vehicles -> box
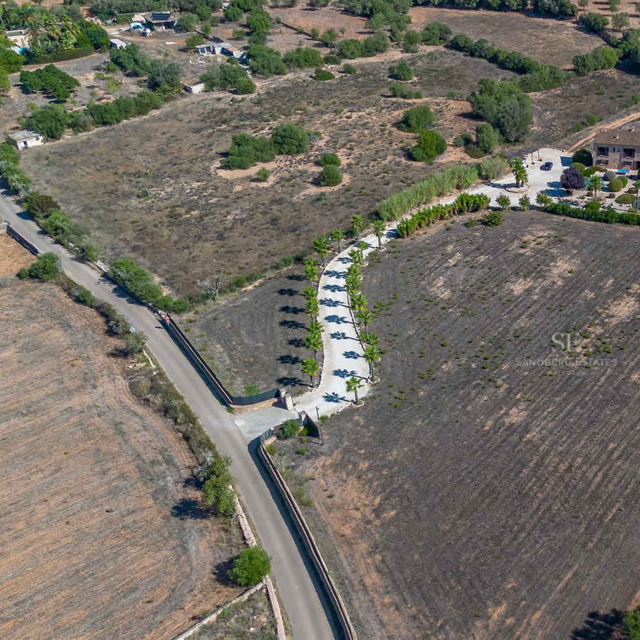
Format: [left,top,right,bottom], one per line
[514,158,534,168]
[542,161,554,171]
